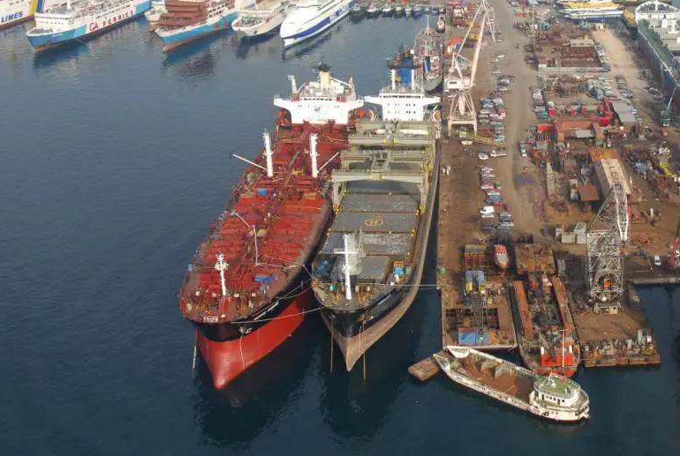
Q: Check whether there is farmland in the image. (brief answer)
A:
No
